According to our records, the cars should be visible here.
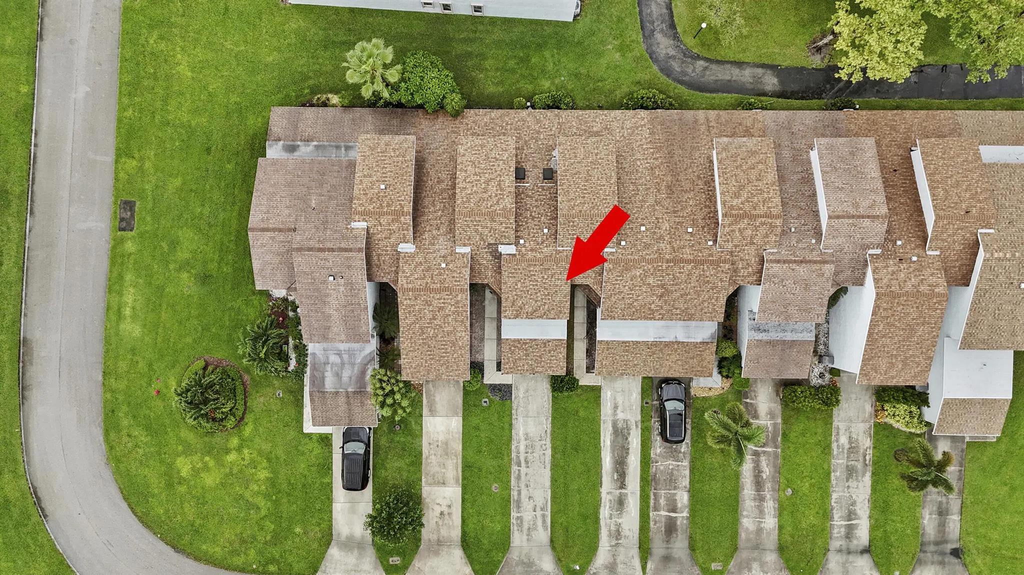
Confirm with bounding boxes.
[657,380,689,444]
[337,427,370,491]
